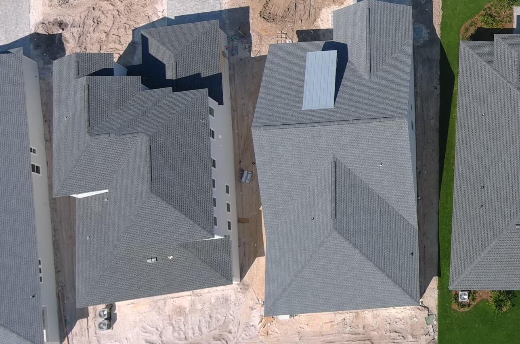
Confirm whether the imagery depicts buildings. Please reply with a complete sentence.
Yes, there's a building here.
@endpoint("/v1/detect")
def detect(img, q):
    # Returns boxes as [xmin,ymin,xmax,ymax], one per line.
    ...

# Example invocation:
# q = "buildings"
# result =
[449,31,520,291]
[54,19,240,309]
[251,0,421,317]
[0,47,61,344]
